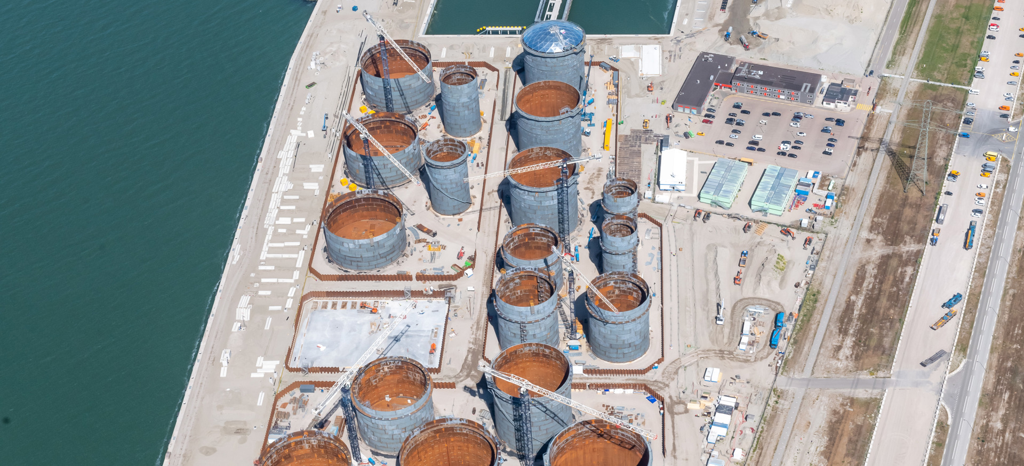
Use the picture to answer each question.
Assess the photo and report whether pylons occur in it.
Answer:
Yes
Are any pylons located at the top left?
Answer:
No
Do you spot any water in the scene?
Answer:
Yes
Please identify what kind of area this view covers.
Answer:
industrial area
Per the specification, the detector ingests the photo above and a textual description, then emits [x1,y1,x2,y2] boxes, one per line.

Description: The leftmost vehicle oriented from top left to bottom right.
[359,299,381,315]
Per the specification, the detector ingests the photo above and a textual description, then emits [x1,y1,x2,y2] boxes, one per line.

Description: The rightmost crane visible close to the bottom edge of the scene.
[474,365,656,466]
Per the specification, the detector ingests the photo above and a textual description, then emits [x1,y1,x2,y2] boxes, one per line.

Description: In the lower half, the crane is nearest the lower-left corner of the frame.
[315,298,423,466]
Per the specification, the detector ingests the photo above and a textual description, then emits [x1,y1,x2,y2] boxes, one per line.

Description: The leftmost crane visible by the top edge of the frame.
[360,9,430,112]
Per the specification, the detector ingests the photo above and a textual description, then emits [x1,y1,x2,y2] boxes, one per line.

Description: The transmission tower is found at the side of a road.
[888,100,964,196]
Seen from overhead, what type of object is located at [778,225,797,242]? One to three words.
work vehicle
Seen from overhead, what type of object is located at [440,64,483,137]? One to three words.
storage tank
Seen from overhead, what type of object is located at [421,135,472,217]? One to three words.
storage tank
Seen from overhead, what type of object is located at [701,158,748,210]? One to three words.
building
